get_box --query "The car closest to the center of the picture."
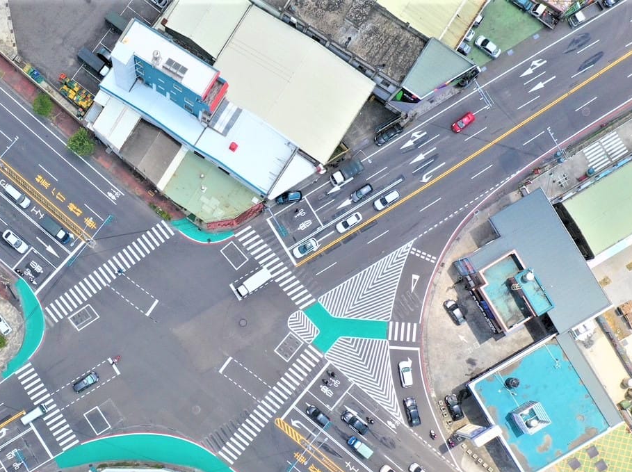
[290,236,320,259]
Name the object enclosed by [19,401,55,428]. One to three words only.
truck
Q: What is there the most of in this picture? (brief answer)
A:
paved ground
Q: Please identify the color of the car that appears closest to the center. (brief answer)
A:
white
